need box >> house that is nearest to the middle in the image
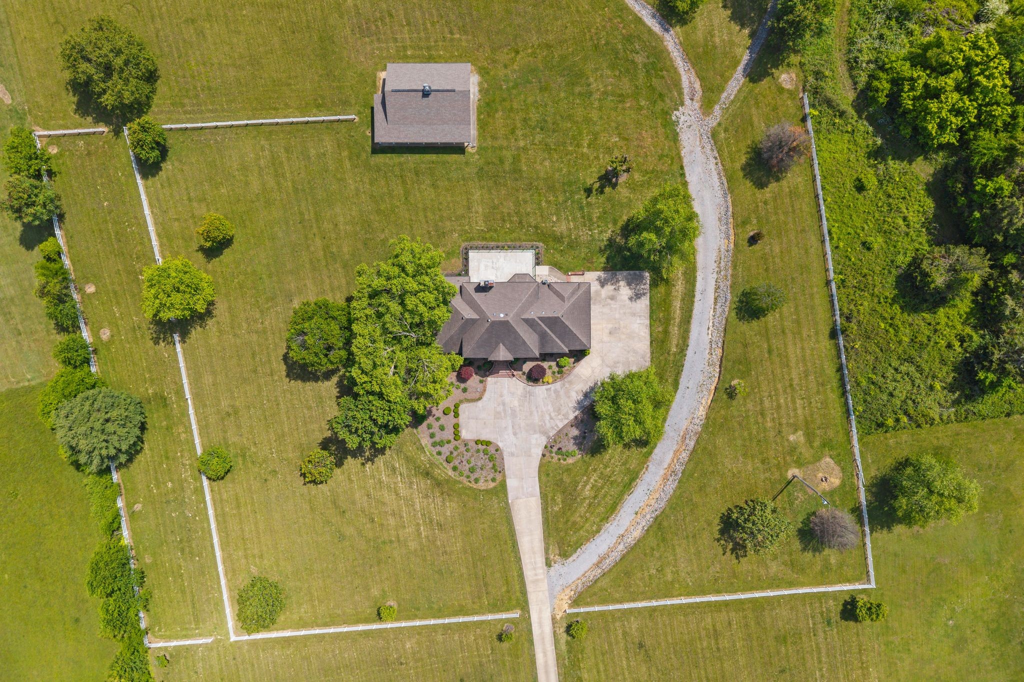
[427,274,591,377]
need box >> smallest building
[374,62,474,152]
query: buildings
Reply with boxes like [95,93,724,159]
[427,274,591,377]
[374,62,474,152]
